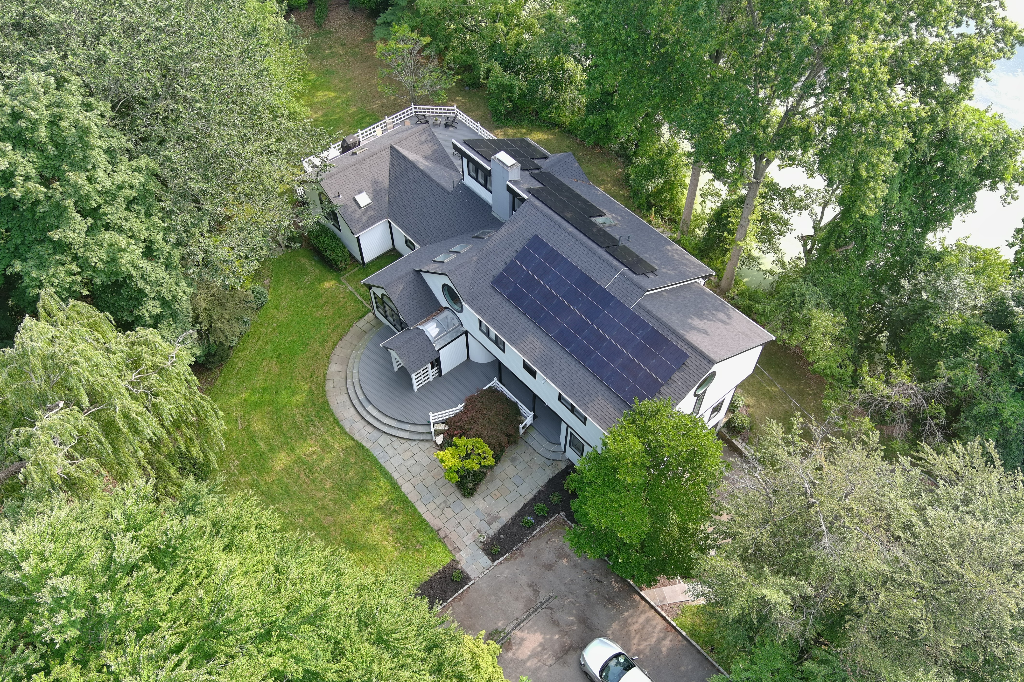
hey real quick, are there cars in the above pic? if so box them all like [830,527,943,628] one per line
[580,637,654,682]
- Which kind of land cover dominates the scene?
trees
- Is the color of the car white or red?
white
